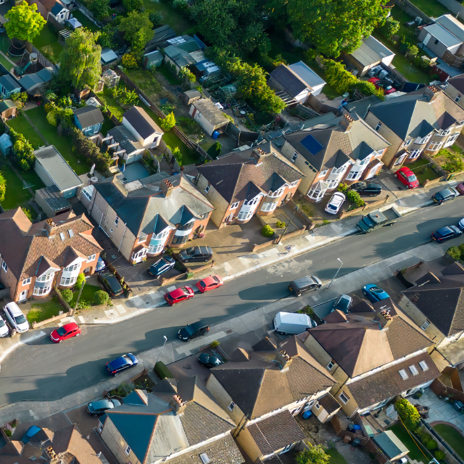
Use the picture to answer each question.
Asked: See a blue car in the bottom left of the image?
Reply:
Yes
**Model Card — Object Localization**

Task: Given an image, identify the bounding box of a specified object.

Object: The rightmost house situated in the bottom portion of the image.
[394,249,464,371]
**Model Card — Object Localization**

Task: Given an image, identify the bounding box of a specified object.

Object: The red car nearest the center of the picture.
[191,274,227,294]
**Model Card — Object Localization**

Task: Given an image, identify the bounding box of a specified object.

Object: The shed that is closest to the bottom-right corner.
[365,429,409,464]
